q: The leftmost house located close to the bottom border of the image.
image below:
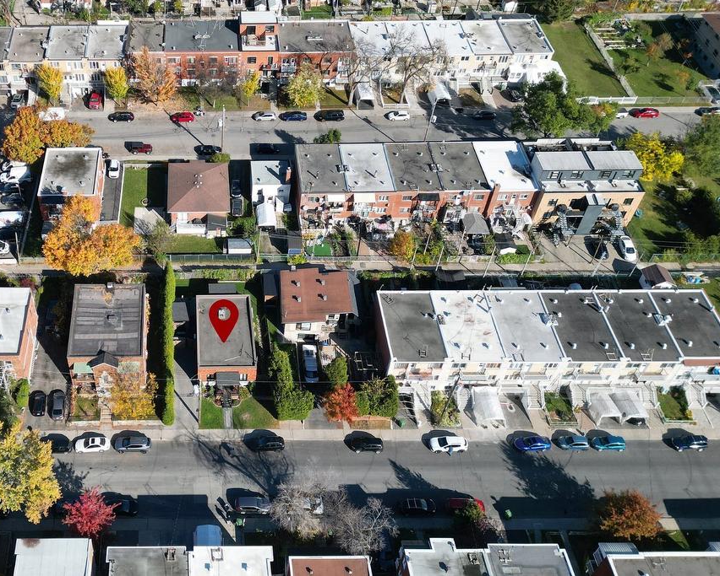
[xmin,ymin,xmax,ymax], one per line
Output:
[10,539,96,576]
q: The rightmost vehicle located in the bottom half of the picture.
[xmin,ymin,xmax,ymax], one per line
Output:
[666,433,712,453]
